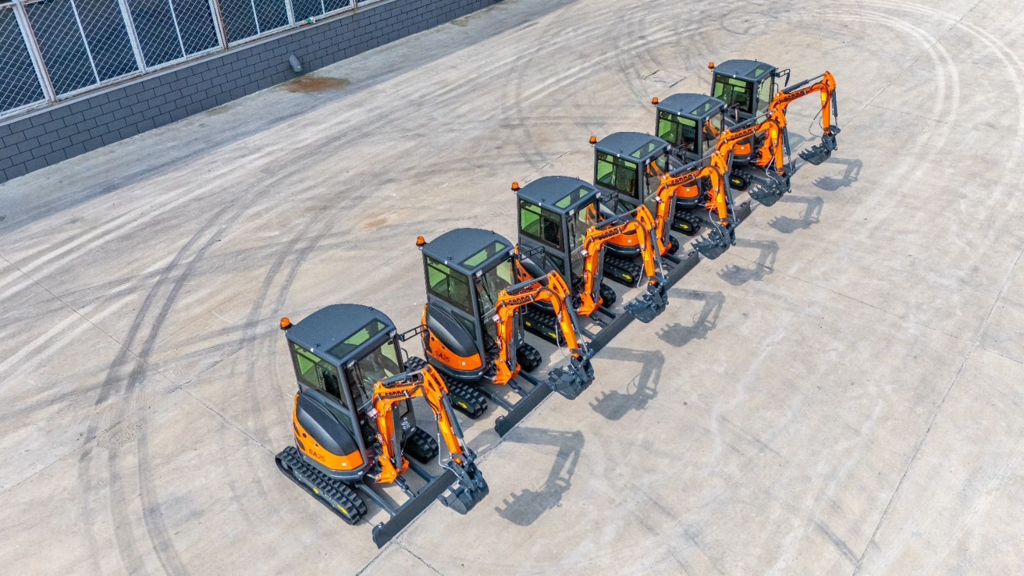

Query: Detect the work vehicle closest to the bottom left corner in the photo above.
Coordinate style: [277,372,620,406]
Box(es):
[273,305,488,547]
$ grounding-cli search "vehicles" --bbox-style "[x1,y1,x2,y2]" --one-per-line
[400,228,595,437]
[570,130,739,293]
[489,175,669,360]
[644,92,795,237]
[273,305,488,547]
